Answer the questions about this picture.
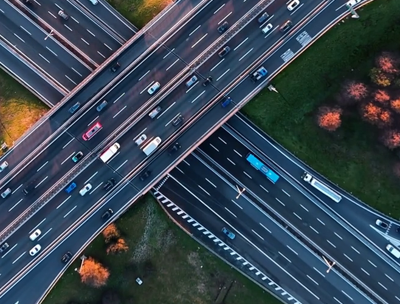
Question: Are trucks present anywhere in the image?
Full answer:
Yes, there is a truck in the image.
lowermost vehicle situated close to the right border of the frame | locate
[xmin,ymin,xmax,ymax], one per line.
[385,244,400,260]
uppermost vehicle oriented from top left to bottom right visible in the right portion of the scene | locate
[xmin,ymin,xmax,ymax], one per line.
[245,153,279,183]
